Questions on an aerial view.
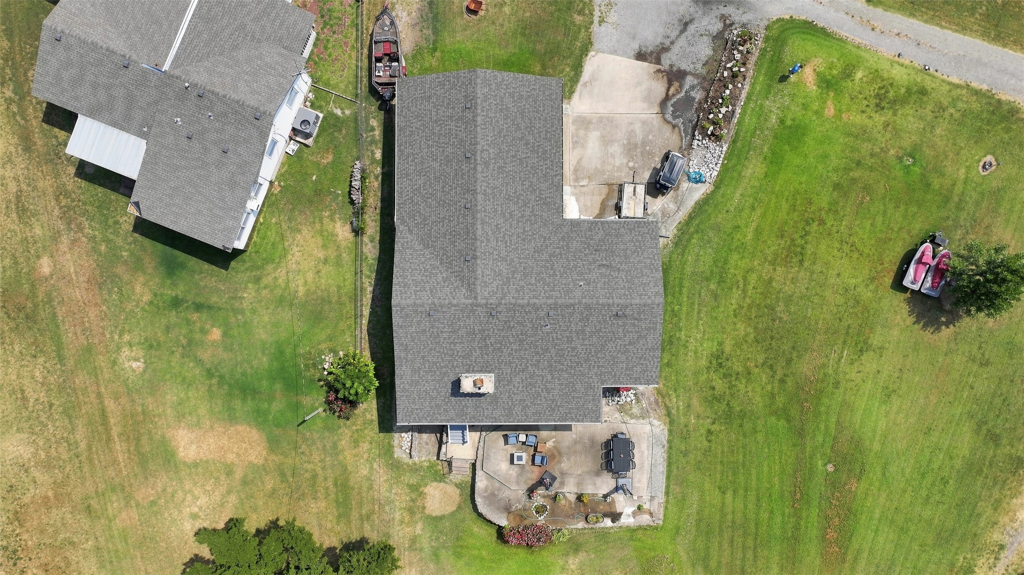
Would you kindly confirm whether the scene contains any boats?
Yes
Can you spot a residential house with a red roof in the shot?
No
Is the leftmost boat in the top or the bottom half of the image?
top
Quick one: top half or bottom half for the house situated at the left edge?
top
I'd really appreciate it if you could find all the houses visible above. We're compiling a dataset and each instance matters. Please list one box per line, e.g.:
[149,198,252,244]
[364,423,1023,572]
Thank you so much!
[391,69,665,426]
[27,0,329,254]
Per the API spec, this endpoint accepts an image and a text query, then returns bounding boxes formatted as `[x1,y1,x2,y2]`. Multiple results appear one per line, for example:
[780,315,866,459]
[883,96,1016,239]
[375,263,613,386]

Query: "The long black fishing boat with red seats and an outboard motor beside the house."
[372,6,402,110]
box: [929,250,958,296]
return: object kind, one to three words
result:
vessel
